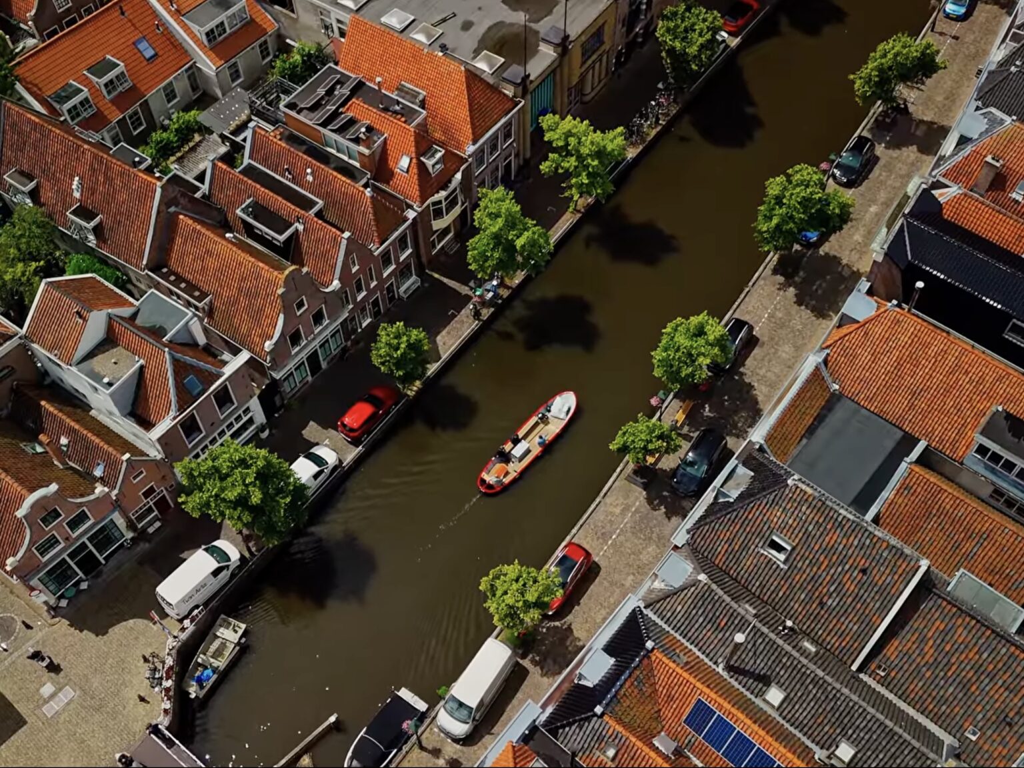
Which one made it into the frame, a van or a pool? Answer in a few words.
van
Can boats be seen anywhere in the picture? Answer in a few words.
Yes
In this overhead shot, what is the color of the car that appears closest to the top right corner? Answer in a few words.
blue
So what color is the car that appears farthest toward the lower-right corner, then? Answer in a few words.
black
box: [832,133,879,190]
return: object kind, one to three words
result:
car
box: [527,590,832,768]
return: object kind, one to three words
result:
house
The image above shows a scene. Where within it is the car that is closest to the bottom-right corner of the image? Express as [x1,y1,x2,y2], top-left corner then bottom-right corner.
[670,424,730,505]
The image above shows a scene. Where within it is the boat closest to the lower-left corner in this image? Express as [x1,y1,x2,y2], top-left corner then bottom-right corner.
[183,614,248,701]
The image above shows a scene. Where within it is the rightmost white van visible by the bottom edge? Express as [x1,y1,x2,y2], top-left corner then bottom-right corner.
[431,627,524,745]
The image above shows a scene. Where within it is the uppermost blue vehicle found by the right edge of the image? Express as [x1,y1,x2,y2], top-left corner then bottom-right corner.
[943,0,975,25]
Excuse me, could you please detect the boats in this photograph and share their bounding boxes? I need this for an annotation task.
[183,614,248,701]
[477,388,579,496]
[344,682,436,768]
